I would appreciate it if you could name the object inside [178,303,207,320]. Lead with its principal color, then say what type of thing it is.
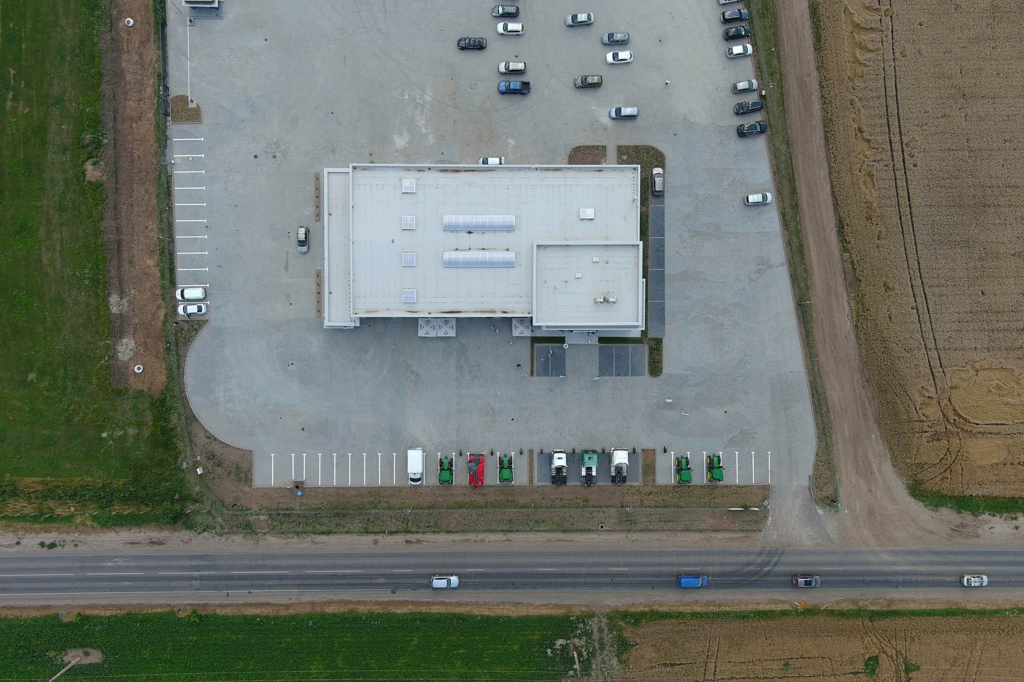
white car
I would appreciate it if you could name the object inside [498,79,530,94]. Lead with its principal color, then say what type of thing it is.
blue vehicle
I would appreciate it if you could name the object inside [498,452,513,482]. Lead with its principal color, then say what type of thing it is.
green work vehicle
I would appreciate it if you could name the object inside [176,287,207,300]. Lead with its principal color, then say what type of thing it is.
white vehicle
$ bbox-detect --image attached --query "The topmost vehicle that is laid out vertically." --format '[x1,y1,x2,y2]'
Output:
[652,168,665,196]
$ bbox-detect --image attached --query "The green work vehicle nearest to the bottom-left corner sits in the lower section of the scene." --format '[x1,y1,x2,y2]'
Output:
[438,454,454,484]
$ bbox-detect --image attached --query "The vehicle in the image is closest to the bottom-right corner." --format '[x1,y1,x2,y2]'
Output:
[960,574,988,588]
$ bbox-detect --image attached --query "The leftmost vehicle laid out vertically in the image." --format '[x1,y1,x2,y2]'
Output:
[295,225,309,254]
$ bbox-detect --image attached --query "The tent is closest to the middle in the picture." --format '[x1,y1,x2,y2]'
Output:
[512,318,530,336]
